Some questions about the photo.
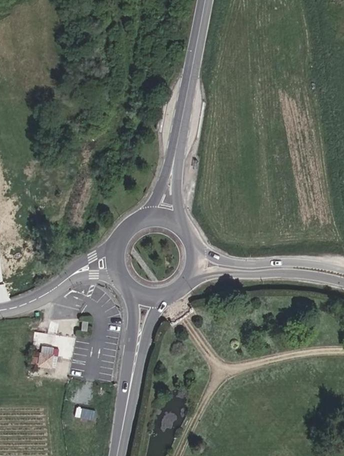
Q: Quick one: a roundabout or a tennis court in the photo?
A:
roundabout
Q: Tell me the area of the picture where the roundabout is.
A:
center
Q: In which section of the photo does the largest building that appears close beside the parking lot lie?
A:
bottom left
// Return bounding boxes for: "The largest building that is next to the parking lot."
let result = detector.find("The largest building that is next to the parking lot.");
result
[32,322,76,370]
